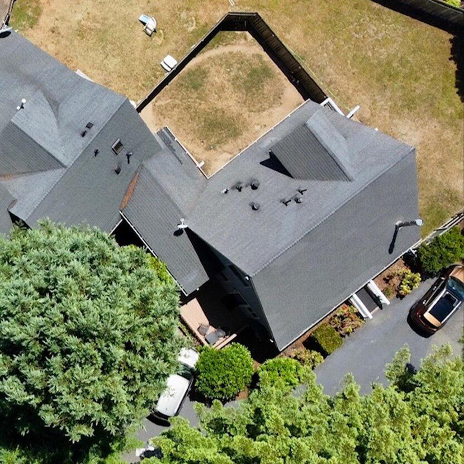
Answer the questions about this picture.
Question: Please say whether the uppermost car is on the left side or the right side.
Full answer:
You can find the uppermost car on the right side of the picture.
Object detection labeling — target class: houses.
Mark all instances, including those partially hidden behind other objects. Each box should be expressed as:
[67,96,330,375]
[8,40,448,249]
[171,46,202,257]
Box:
[0,19,166,255]
[181,99,426,352]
